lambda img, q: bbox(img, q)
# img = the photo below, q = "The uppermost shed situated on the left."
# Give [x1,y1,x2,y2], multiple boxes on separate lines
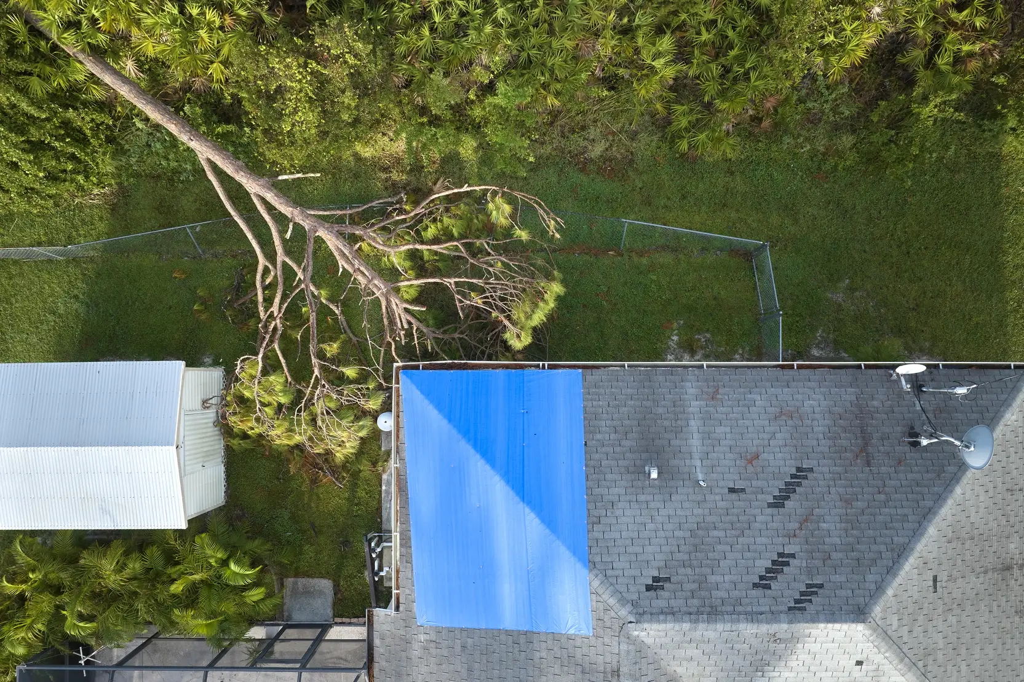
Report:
[0,361,227,531]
